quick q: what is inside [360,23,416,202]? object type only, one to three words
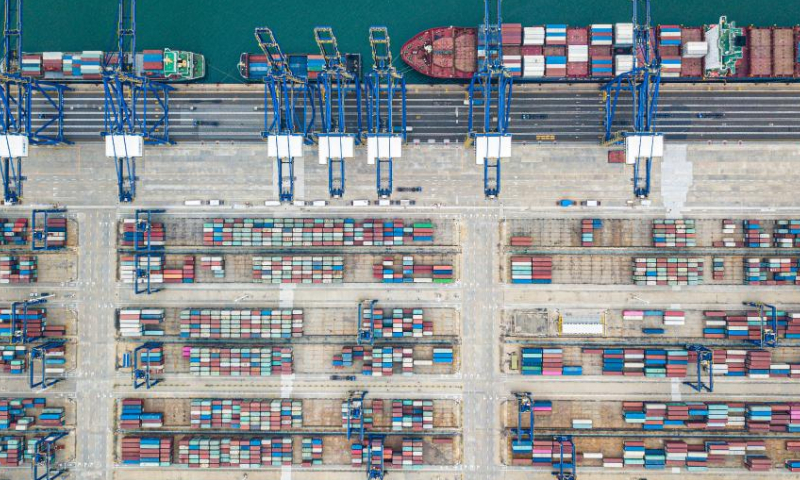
container crane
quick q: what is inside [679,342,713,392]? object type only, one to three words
crane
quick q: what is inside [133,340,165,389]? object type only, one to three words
crane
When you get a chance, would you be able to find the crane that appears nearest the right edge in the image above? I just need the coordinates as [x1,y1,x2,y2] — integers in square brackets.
[739,302,777,348]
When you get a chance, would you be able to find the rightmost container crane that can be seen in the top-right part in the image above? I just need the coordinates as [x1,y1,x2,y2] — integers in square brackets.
[591,0,668,202]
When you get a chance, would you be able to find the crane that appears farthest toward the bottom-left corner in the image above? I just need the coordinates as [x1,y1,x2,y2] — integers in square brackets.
[34,430,70,480]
